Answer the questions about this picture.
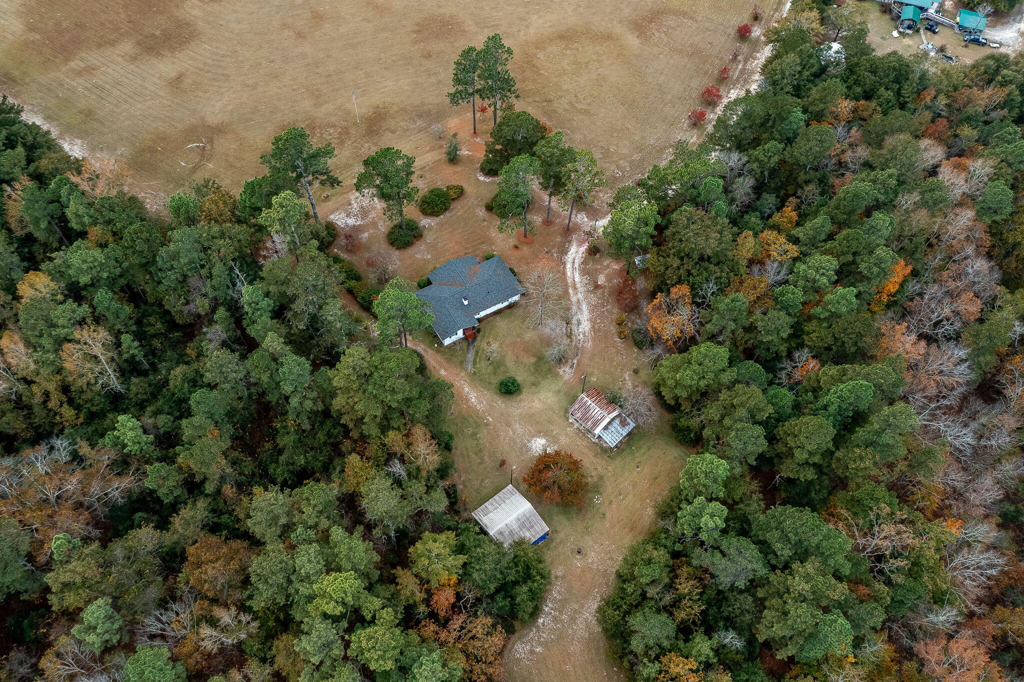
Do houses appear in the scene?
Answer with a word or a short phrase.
Yes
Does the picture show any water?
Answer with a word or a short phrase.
No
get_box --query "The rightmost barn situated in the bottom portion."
[568,388,635,453]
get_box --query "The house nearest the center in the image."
[427,255,526,346]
